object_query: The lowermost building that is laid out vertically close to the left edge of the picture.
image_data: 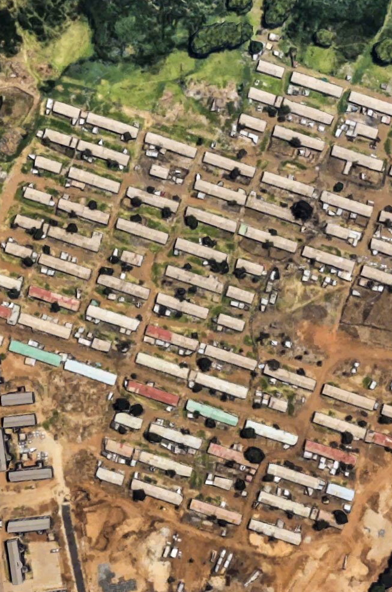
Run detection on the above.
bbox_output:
[7,540,30,585]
